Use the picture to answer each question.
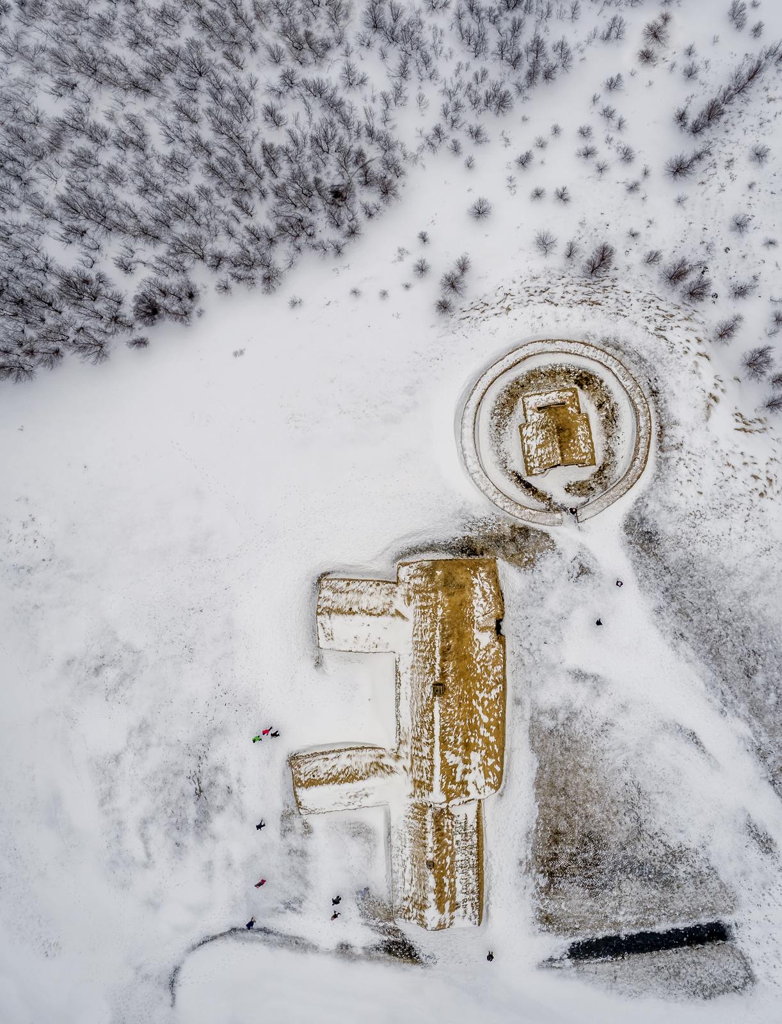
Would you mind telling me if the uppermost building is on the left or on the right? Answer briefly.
right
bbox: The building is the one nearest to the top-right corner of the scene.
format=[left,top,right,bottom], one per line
[519,388,596,476]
